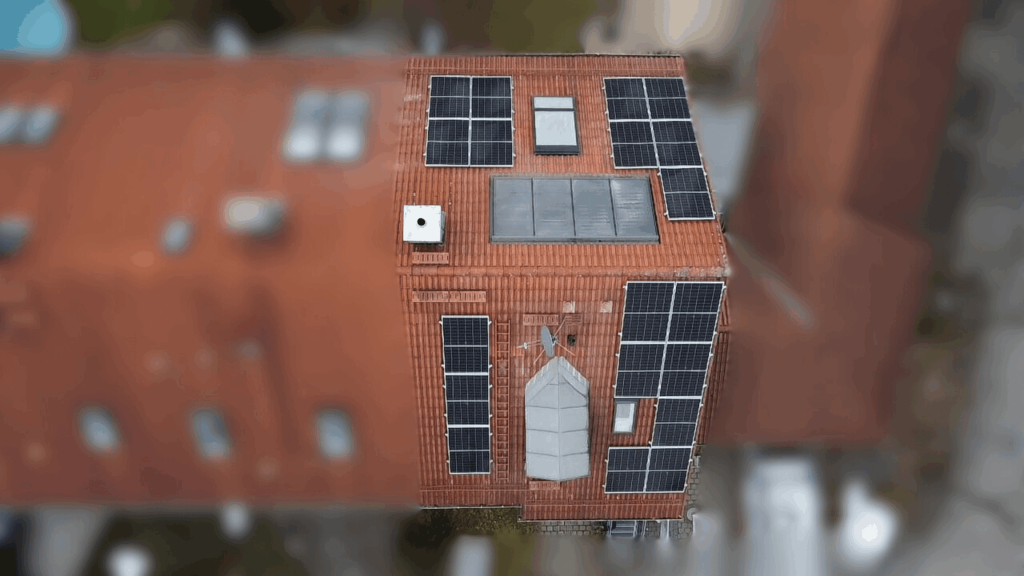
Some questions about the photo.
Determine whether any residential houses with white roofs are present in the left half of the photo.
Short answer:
No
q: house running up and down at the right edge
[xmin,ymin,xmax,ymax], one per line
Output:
[698,0,983,448]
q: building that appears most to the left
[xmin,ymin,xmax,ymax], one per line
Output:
[0,51,240,515]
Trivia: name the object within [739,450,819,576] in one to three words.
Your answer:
van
